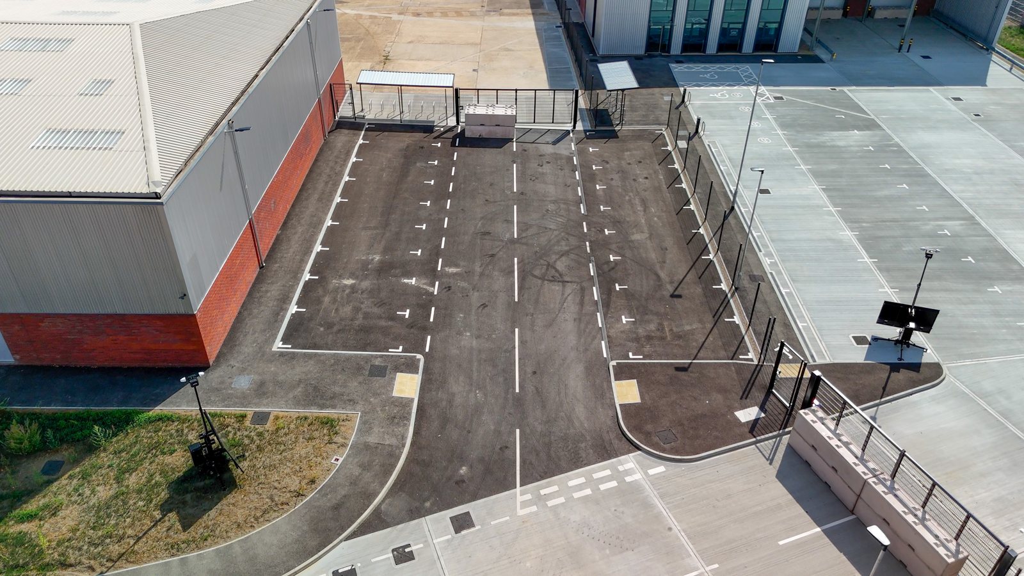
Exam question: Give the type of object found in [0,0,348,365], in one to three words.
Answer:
warehouse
